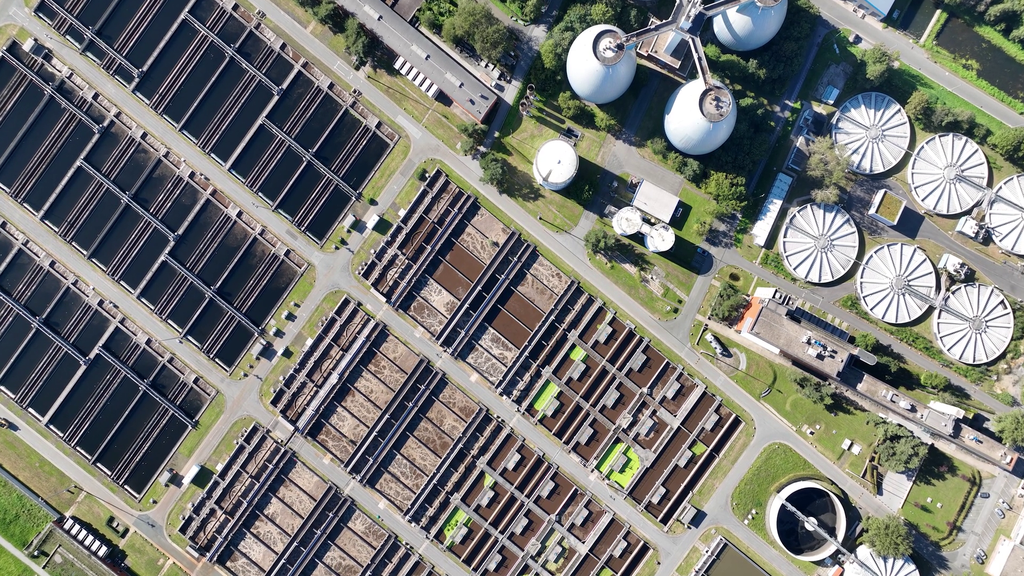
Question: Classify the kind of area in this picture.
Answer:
industrial area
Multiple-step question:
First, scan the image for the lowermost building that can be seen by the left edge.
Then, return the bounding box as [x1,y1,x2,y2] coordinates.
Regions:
[11,519,127,576]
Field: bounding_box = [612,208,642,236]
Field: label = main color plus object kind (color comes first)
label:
white storage tank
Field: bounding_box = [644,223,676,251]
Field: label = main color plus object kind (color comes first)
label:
white storage tank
